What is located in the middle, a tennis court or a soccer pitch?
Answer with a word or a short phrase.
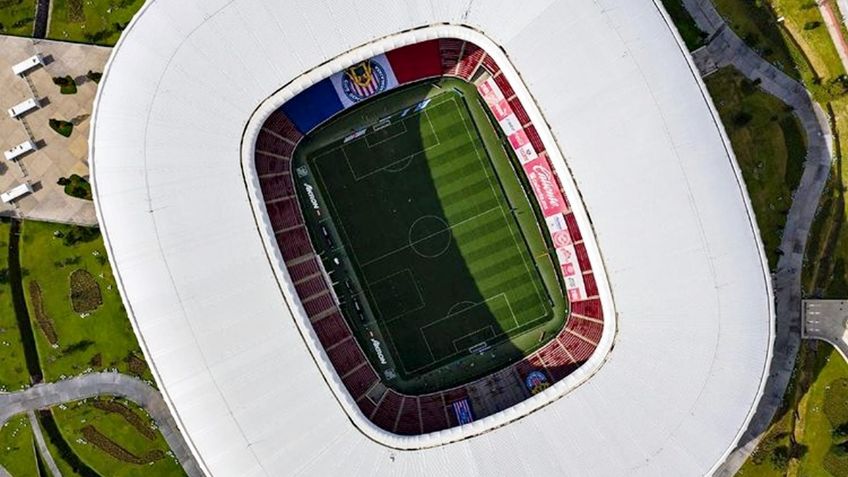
soccer pitch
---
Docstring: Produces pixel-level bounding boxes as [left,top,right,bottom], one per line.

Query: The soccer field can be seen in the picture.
[292,76,569,396]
